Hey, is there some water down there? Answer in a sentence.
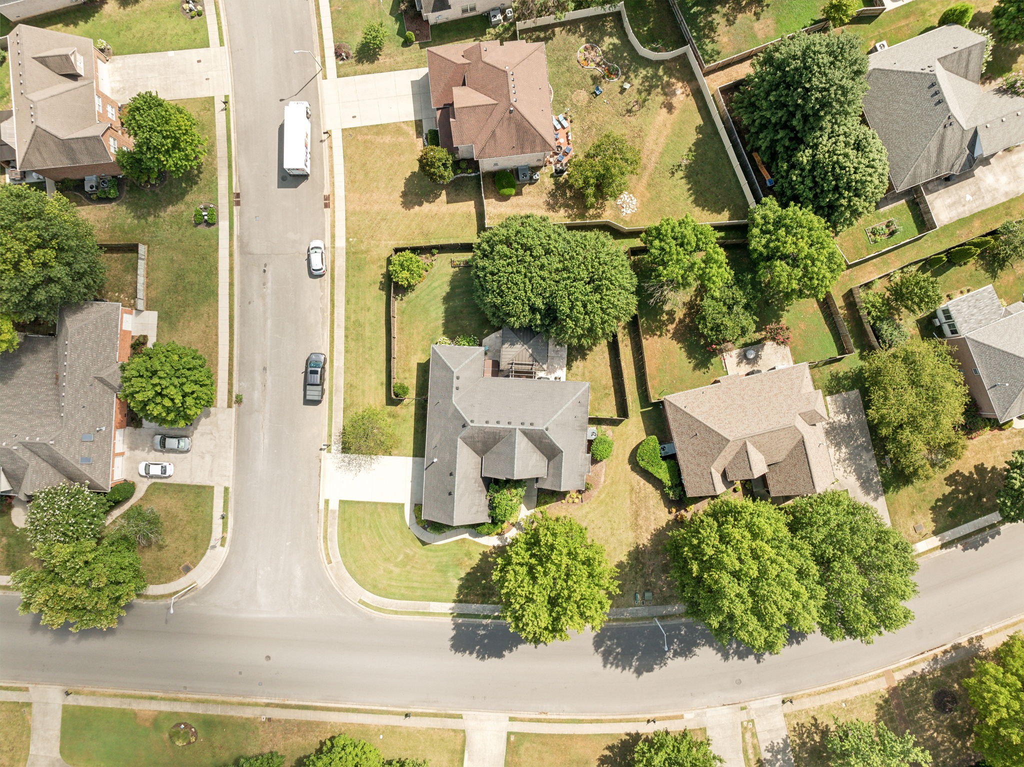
No, the scene doesn't show any water.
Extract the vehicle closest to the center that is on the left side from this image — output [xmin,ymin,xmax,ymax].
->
[305,352,327,400]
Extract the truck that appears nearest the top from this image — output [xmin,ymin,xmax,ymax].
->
[284,102,312,178]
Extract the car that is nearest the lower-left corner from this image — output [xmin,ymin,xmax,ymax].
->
[138,461,175,479]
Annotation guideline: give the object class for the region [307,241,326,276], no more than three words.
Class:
car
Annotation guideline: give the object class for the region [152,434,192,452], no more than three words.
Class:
car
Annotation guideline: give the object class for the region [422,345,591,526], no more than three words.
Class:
house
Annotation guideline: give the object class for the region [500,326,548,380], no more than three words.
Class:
building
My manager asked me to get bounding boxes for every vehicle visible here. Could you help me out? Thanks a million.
[305,352,327,400]
[152,434,192,452]
[138,461,175,479]
[307,241,326,276]
[284,102,312,178]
